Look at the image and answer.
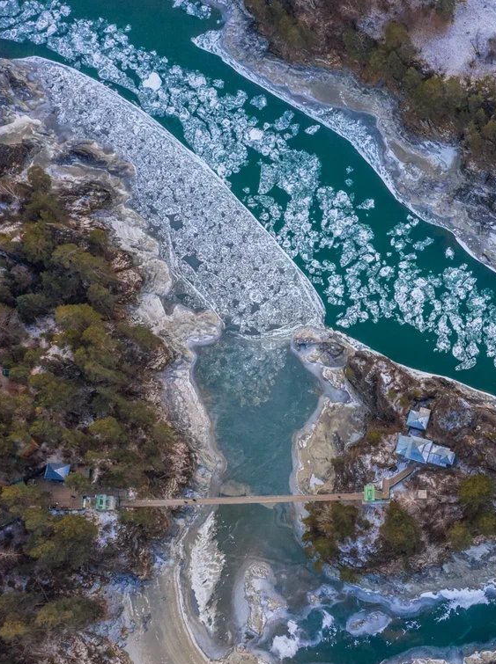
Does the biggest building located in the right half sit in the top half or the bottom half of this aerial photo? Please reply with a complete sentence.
Seen from above, the biggest building located in the right half lies in the bottom half of the view.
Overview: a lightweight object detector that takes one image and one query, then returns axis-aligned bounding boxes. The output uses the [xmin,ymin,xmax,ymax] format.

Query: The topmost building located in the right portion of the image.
[405,409,430,432]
